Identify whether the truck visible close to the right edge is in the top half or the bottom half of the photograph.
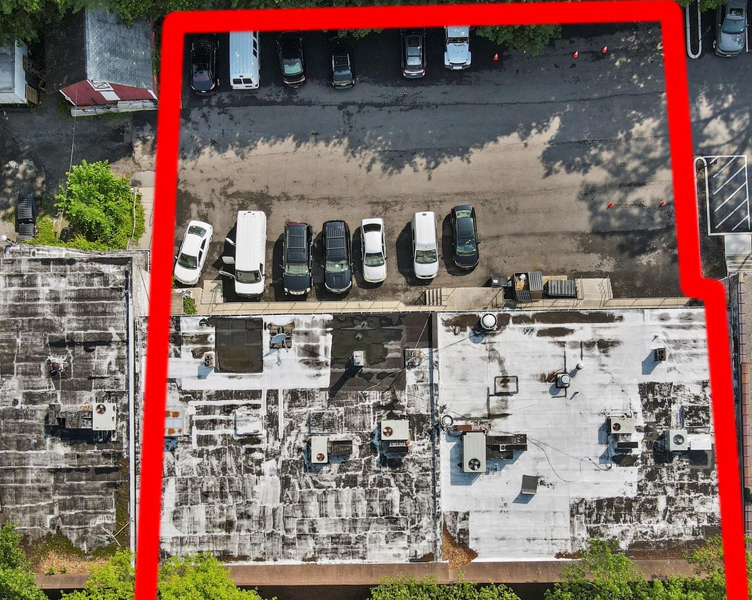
top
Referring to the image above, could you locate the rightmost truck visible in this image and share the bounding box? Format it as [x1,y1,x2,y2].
[714,0,751,59]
